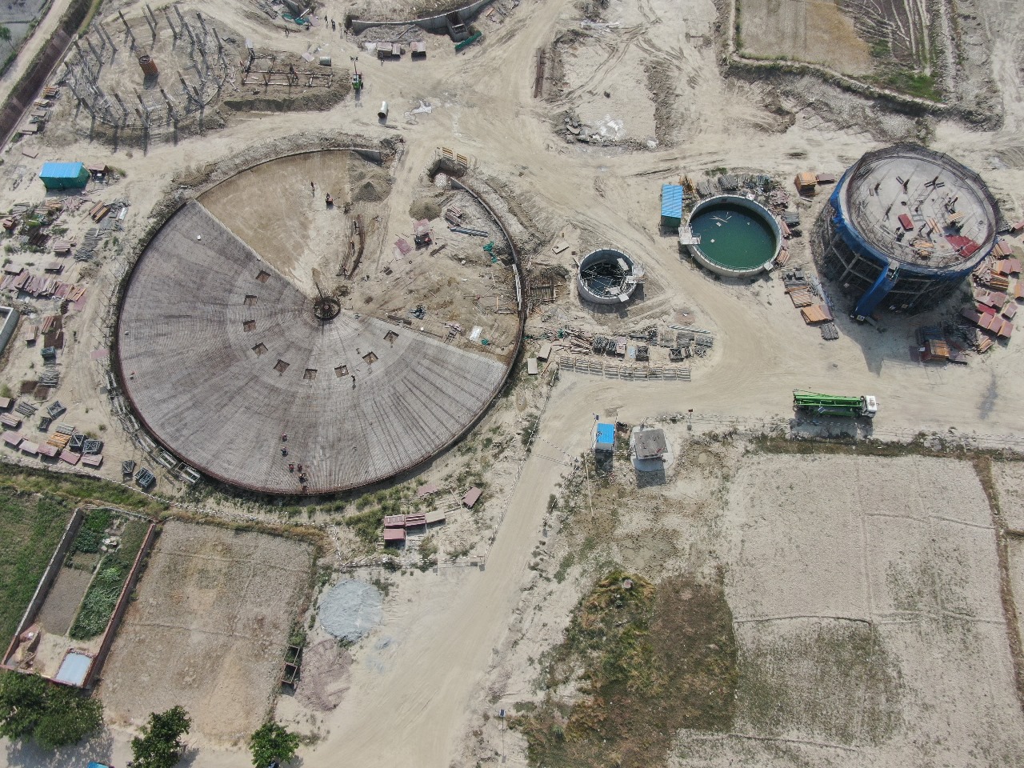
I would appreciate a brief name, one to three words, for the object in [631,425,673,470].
building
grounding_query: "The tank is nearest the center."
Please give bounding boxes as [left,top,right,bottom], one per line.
[118,148,523,495]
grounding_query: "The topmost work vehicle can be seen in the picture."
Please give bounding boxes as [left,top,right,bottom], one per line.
[351,69,363,91]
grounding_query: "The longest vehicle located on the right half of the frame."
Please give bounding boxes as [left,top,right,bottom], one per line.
[791,391,885,422]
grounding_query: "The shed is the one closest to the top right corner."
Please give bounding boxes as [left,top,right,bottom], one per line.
[659,183,683,229]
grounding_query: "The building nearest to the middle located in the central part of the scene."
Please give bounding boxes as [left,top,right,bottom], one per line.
[594,423,615,450]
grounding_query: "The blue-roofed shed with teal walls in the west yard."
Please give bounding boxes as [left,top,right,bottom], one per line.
[33,161,96,190]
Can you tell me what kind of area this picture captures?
industrial area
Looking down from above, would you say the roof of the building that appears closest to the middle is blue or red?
blue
